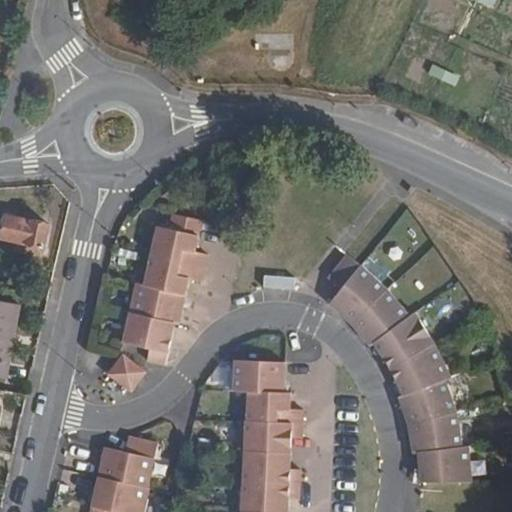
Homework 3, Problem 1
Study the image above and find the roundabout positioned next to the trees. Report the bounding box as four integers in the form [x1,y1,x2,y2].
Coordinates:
[0,0,210,260]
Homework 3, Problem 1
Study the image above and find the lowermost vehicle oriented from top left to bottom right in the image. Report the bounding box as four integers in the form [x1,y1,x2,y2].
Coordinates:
[104,432,124,448]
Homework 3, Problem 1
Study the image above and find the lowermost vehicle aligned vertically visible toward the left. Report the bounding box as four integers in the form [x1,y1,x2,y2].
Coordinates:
[12,477,25,504]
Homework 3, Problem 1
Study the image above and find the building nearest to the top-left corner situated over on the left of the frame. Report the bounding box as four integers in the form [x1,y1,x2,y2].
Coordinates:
[0,212,49,254]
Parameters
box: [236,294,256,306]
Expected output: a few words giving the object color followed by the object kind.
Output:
white vehicle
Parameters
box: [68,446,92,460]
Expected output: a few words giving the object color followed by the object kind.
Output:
white vehicle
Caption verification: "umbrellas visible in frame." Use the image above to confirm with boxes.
[389,246,403,260]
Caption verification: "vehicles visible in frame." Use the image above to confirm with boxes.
[292,438,310,448]
[236,294,256,306]
[334,456,357,466]
[35,392,46,416]
[12,477,25,504]
[335,446,356,456]
[336,411,358,422]
[336,434,358,444]
[334,396,359,408]
[334,492,356,502]
[70,0,80,20]
[334,468,358,478]
[104,432,124,448]
[336,424,358,434]
[287,364,310,374]
[289,331,301,352]
[74,461,96,472]
[68,446,92,460]
[334,503,356,512]
[336,481,357,491]
[64,256,76,280]
[300,482,310,506]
